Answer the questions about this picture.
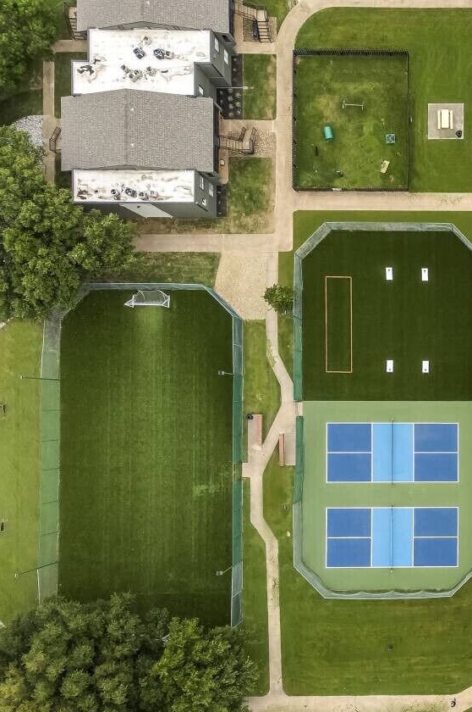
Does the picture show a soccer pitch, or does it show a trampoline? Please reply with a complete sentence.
Looking from above, you can make out a soccer pitch.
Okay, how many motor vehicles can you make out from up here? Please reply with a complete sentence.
The photo contains no motor vehicles.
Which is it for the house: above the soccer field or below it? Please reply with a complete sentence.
In the image, the house appears above the soccer field.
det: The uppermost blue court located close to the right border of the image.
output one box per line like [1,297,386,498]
[327,423,459,482]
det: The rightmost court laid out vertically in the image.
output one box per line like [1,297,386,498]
[304,230,472,590]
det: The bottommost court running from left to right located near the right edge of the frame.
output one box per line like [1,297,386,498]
[327,508,459,568]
